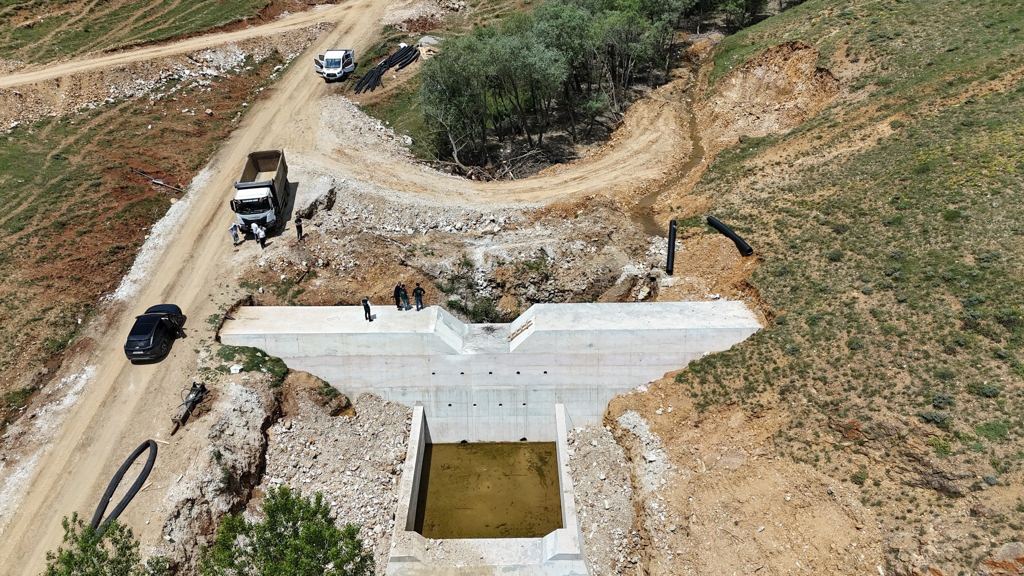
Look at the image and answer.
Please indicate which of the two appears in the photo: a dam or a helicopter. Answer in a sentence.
Visible in the photo is a dam.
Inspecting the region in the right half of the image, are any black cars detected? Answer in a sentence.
No, there's no black car to be seen in the right half of the image.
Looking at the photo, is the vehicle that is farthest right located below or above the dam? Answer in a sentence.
Within the scene, the vehicle that is farthest right can be found above the dam.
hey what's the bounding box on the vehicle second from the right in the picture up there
[228,146,289,228]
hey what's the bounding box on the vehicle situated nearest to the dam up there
[122,302,190,362]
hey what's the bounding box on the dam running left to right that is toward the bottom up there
[217,303,765,442]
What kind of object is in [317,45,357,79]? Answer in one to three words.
vehicle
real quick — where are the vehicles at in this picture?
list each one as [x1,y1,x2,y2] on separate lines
[228,146,289,228]
[317,45,357,79]
[122,302,190,362]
